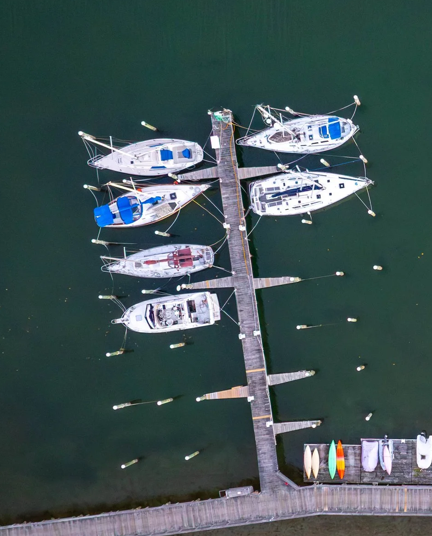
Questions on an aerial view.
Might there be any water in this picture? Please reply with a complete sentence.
Yes, water can be seen from above here.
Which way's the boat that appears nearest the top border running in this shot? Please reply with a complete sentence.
What the image shows is the boat that appears nearest the top border lying horizontally.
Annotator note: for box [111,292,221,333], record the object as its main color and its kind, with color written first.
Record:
white boat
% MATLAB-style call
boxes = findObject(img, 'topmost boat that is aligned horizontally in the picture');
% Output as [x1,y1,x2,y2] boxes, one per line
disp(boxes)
[231,103,359,153]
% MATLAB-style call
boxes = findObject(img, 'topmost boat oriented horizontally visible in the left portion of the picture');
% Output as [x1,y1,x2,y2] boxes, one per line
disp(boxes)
[81,132,204,176]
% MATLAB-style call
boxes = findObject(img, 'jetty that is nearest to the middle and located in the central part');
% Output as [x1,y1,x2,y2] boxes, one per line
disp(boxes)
[192,276,235,289]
